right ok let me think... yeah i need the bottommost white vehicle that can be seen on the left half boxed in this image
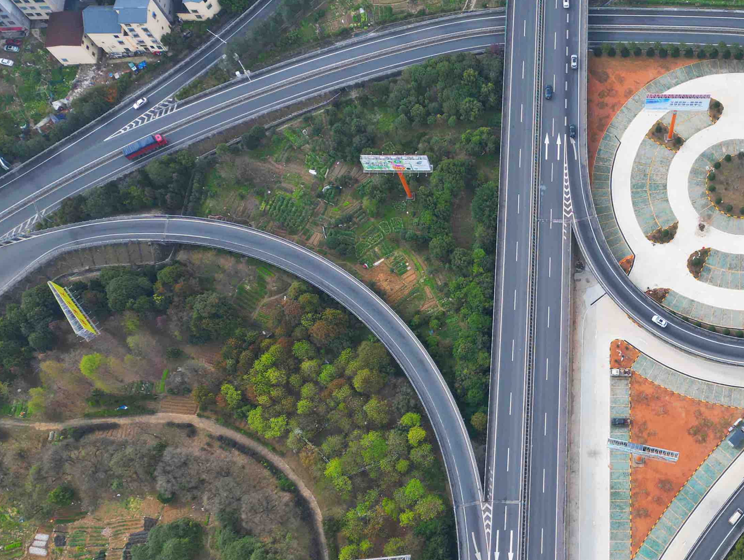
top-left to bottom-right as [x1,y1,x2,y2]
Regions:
[133,96,150,109]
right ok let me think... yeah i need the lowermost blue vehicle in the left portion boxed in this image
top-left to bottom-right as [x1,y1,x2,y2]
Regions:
[125,131,168,158]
